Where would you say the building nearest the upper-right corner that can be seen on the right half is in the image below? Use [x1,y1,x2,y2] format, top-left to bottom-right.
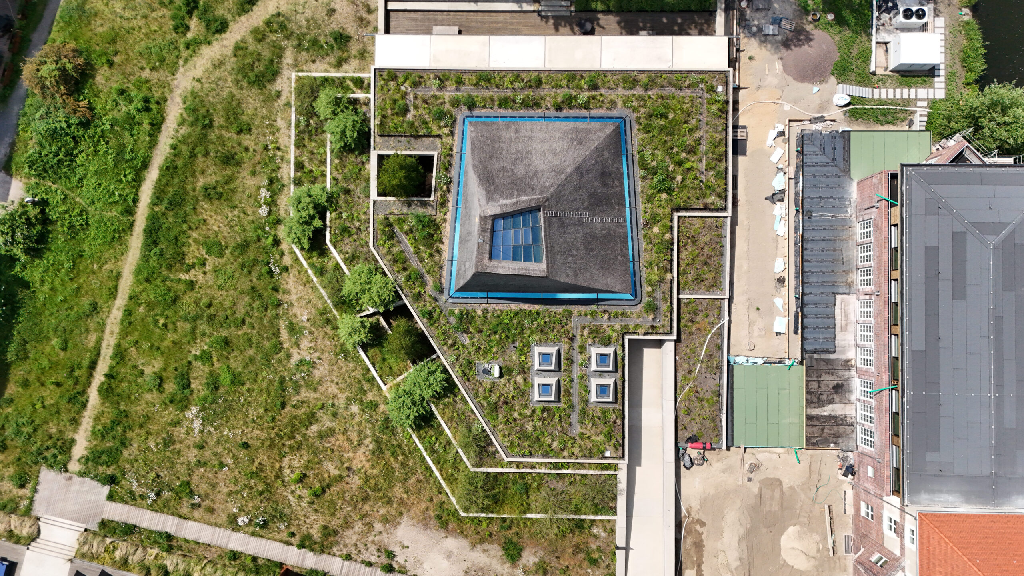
[885,33,940,72]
